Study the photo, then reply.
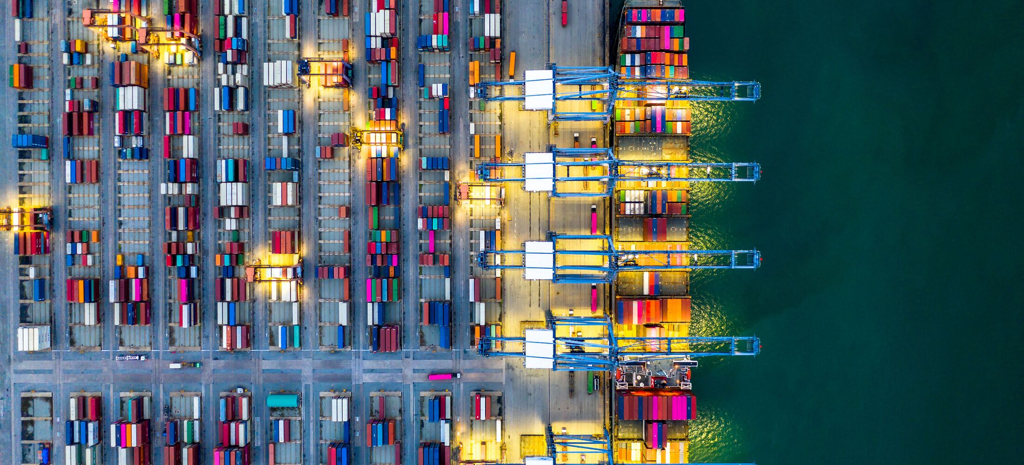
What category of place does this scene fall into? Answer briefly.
port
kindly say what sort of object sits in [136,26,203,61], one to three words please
crane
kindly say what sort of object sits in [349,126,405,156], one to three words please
crane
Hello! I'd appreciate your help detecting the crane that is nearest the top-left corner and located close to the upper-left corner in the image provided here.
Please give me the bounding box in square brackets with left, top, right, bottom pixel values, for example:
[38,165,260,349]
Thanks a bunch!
[83,8,153,43]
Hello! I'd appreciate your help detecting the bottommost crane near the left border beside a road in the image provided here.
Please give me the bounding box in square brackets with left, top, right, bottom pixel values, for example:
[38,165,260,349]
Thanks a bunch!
[0,205,55,234]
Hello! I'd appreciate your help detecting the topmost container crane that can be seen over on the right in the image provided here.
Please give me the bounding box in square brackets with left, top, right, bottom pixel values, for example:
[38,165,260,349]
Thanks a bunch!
[475,67,760,132]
